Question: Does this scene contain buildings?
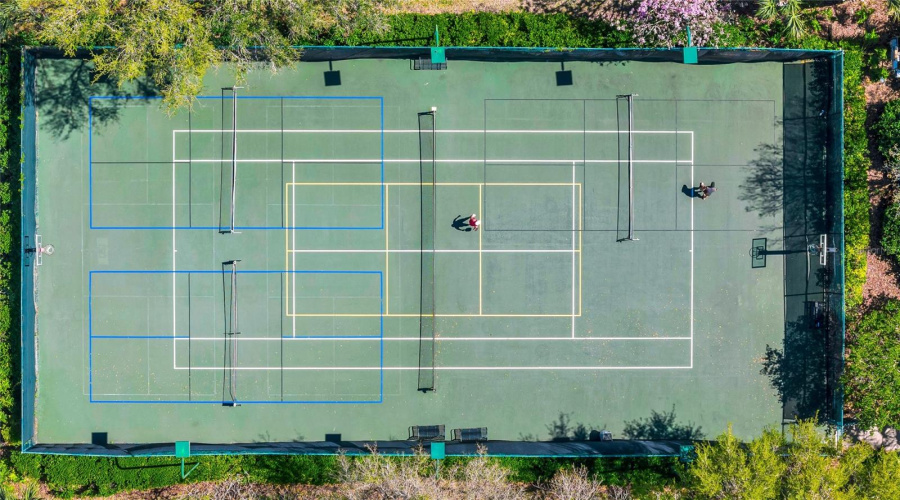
No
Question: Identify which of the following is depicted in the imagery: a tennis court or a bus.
tennis court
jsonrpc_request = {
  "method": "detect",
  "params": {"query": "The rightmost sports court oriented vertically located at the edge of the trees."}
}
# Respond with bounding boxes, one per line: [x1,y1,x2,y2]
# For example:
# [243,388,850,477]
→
[266,106,400,395]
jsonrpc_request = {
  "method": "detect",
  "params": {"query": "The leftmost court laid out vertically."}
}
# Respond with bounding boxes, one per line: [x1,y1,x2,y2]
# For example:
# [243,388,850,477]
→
[82,106,214,395]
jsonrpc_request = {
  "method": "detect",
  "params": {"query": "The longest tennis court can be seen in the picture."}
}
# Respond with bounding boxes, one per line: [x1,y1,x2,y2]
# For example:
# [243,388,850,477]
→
[38,57,829,446]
